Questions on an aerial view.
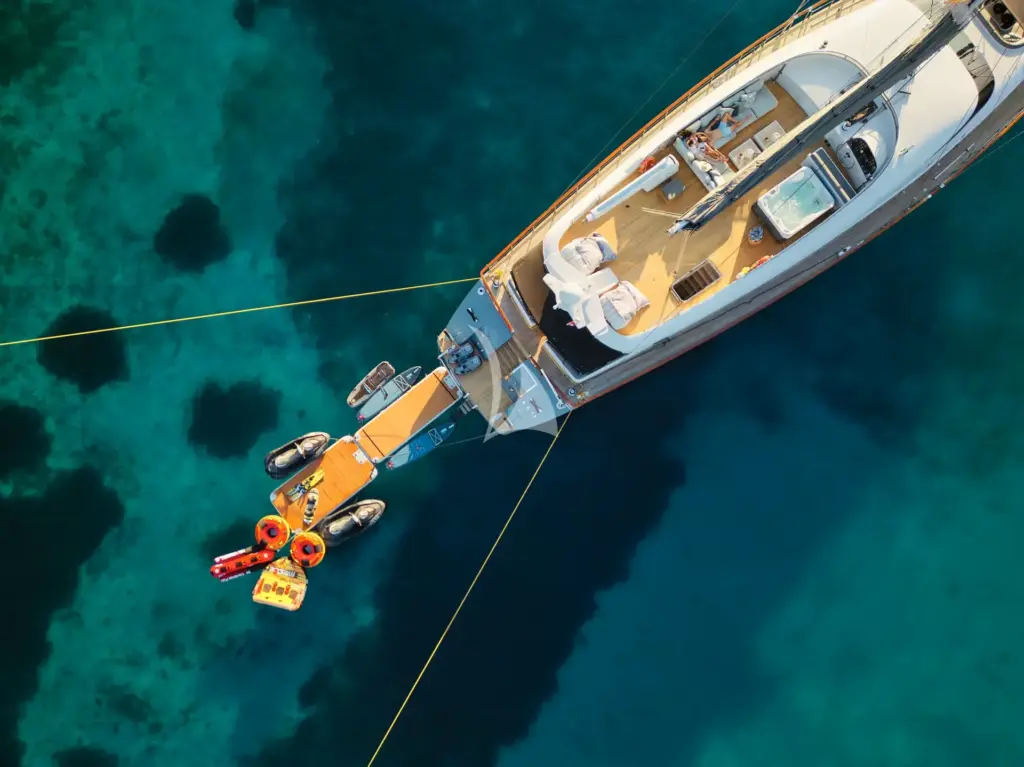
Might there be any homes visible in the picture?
No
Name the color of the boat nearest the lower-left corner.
red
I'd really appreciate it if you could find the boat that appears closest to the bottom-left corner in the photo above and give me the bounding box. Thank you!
[208,548,272,581]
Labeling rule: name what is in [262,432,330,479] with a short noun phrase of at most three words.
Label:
boat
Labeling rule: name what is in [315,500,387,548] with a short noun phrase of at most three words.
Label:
boat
